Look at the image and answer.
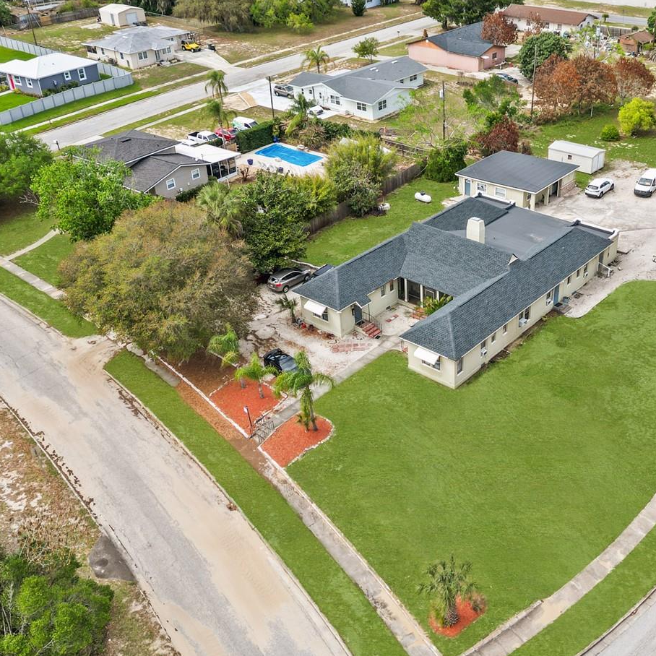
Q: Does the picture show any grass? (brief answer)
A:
Yes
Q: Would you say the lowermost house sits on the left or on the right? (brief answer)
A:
right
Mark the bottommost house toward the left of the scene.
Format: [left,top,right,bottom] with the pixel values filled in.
[68,123,253,200]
